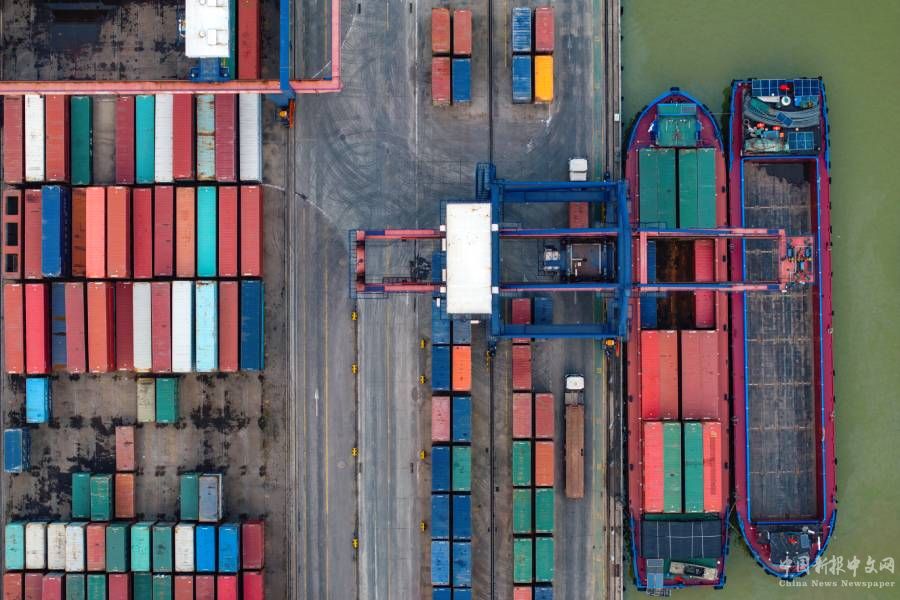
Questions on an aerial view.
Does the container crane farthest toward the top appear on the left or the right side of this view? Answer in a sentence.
The container crane farthest toward the top appears in the left half of the scene.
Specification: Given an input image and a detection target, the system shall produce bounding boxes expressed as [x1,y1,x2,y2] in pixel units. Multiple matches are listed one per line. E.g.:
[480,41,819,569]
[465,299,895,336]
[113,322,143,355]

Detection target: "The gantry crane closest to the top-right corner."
[349,162,813,370]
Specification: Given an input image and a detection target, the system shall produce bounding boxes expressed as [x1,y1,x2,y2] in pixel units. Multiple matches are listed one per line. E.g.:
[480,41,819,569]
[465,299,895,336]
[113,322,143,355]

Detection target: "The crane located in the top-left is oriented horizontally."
[0,0,342,127]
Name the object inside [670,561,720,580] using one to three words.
boat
